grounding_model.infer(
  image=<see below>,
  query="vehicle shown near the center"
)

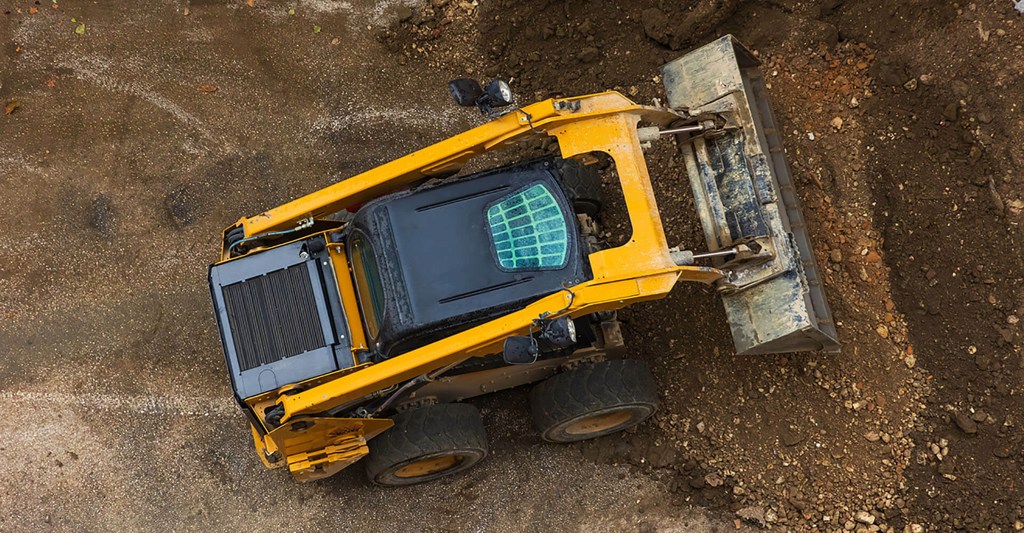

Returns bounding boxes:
[206,33,845,484]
